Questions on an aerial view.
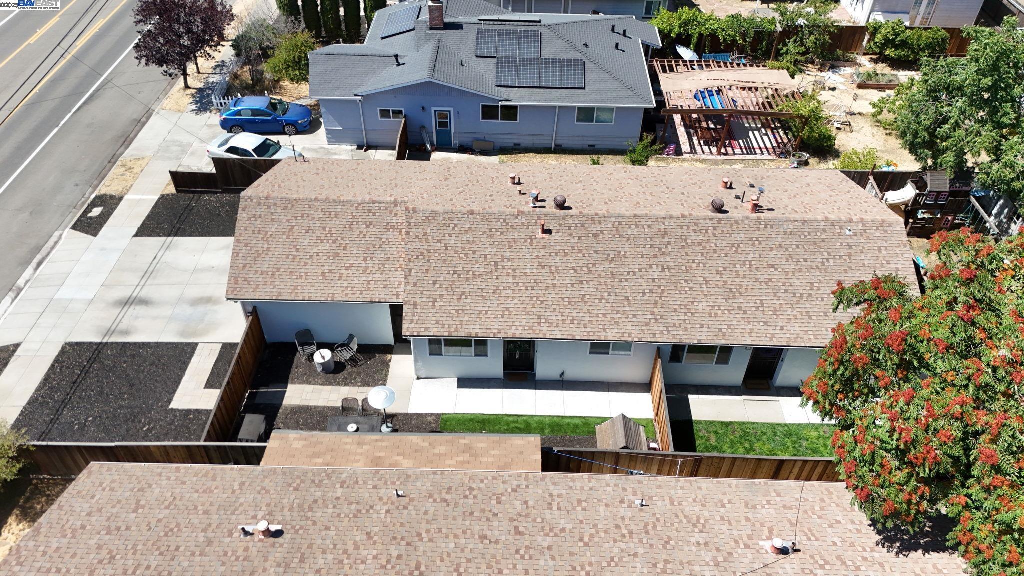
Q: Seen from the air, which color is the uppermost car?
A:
blue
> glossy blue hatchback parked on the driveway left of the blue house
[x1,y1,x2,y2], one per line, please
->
[217,91,313,132]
